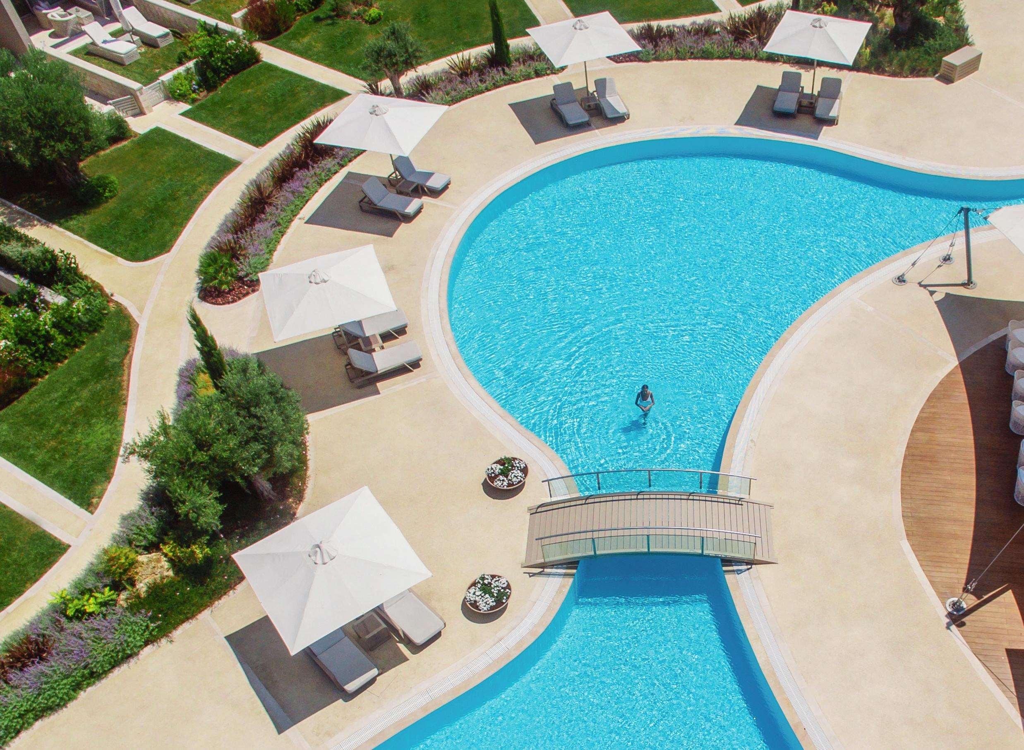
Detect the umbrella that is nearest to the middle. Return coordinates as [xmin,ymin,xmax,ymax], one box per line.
[257,245,395,373]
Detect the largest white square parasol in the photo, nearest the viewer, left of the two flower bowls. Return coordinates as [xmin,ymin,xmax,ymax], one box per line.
[229,488,430,658]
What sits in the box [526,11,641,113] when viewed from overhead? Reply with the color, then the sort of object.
white umbrella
